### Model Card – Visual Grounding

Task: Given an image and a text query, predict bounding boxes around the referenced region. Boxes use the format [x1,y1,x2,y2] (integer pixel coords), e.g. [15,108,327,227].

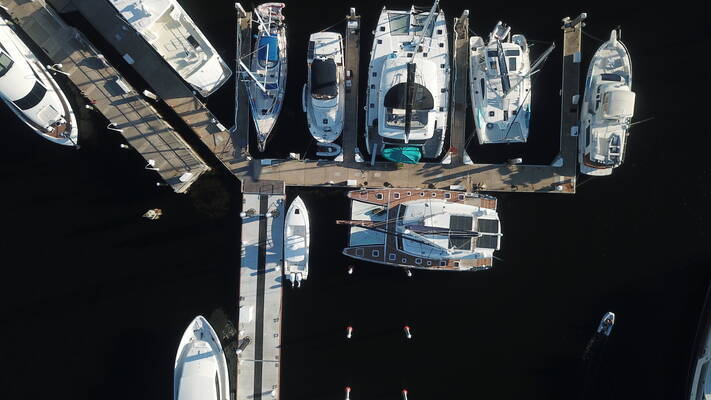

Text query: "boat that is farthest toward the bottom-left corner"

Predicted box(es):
[171,316,232,400]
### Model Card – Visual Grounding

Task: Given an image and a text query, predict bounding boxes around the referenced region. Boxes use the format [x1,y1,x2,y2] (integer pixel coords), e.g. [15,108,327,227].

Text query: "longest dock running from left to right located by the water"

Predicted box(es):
[240,159,576,192]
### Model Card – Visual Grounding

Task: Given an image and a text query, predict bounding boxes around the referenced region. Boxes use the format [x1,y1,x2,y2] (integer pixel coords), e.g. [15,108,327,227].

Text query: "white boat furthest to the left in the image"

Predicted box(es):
[0,12,86,148]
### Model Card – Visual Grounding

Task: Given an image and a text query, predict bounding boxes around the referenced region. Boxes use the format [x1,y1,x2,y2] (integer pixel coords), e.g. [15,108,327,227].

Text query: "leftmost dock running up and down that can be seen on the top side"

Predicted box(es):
[237,12,251,159]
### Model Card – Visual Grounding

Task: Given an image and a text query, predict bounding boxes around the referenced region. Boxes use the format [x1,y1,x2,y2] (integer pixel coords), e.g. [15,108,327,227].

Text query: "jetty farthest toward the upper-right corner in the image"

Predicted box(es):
[560,22,580,167]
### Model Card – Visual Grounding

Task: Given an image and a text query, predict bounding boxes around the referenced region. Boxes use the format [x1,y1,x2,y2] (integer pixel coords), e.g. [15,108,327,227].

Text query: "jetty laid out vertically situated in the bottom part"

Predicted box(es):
[236,193,286,400]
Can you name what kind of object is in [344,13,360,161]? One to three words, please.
pier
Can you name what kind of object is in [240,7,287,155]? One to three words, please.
boat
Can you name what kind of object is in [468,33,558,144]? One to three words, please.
boat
